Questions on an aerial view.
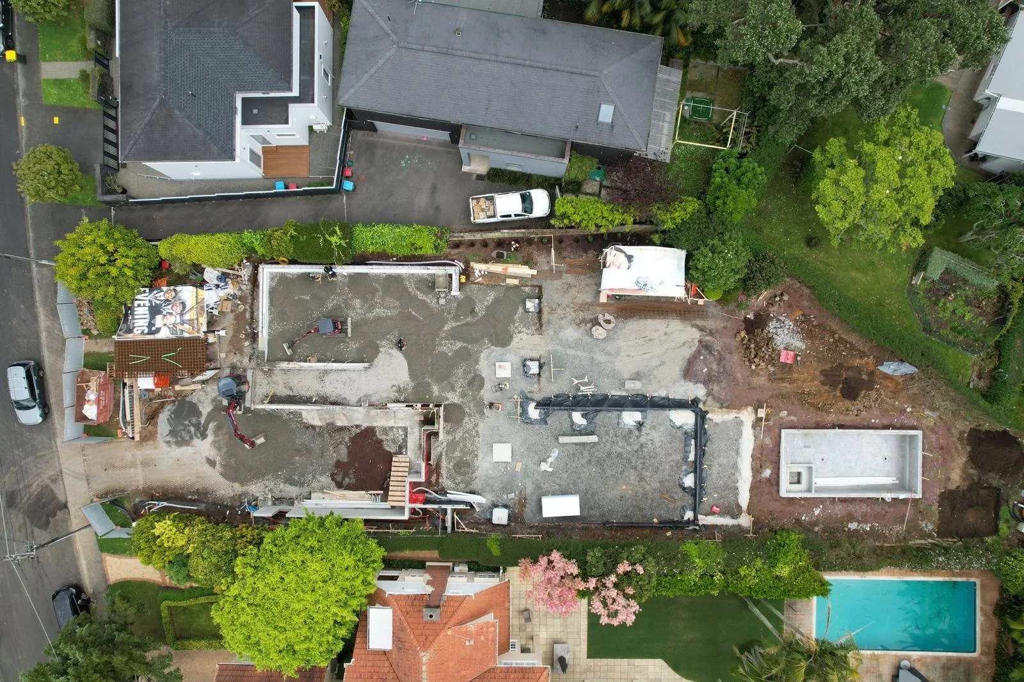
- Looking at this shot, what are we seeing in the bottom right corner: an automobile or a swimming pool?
swimming pool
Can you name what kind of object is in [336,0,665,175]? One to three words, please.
house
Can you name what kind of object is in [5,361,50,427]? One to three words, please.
car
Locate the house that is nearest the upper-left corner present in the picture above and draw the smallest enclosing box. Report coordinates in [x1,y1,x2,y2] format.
[116,0,334,179]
